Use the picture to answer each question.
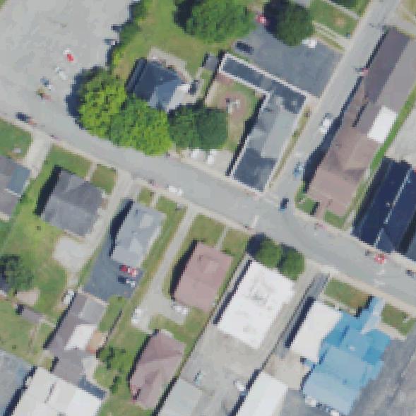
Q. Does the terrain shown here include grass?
Yes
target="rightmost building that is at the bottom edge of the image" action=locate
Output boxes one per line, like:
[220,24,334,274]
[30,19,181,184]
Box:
[288,296,390,414]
